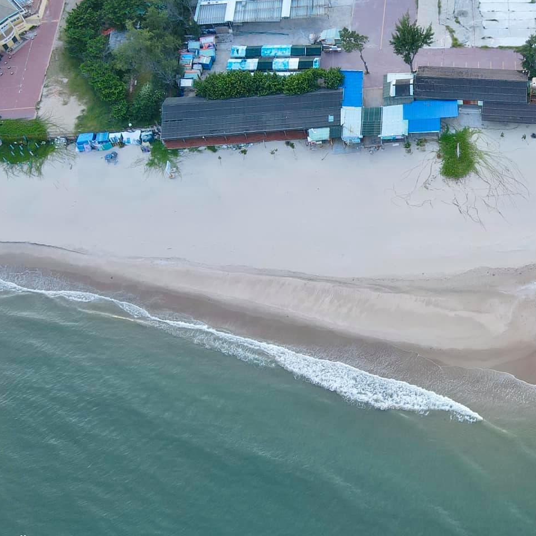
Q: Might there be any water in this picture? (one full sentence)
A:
Yes, there's water in this view.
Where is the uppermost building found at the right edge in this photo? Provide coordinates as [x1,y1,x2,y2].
[414,69,528,109]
